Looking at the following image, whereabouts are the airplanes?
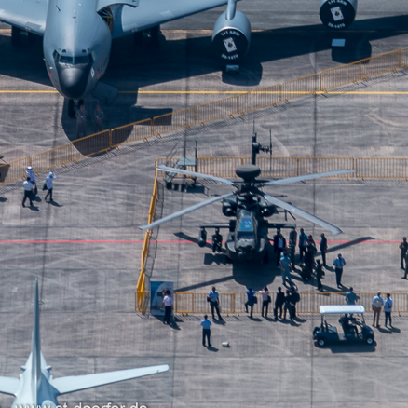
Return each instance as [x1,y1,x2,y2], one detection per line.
[0,275,171,408]
[0,0,253,121]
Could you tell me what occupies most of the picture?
paved ground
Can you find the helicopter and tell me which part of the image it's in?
center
